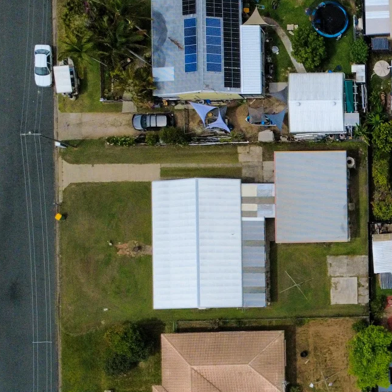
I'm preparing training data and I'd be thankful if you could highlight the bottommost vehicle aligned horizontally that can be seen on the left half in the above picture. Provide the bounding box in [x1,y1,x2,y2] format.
[132,111,175,132]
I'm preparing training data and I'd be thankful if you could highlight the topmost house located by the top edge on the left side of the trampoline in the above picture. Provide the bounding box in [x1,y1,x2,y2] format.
[151,0,269,101]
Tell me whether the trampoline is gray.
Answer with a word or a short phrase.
No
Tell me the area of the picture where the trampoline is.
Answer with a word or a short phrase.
top right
